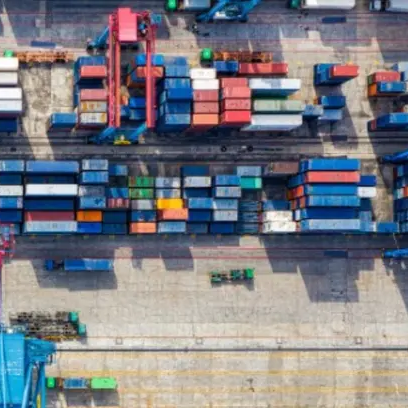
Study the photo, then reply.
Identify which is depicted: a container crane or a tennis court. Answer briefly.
container crane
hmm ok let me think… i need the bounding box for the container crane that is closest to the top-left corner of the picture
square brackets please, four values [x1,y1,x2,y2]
[80,7,156,148]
